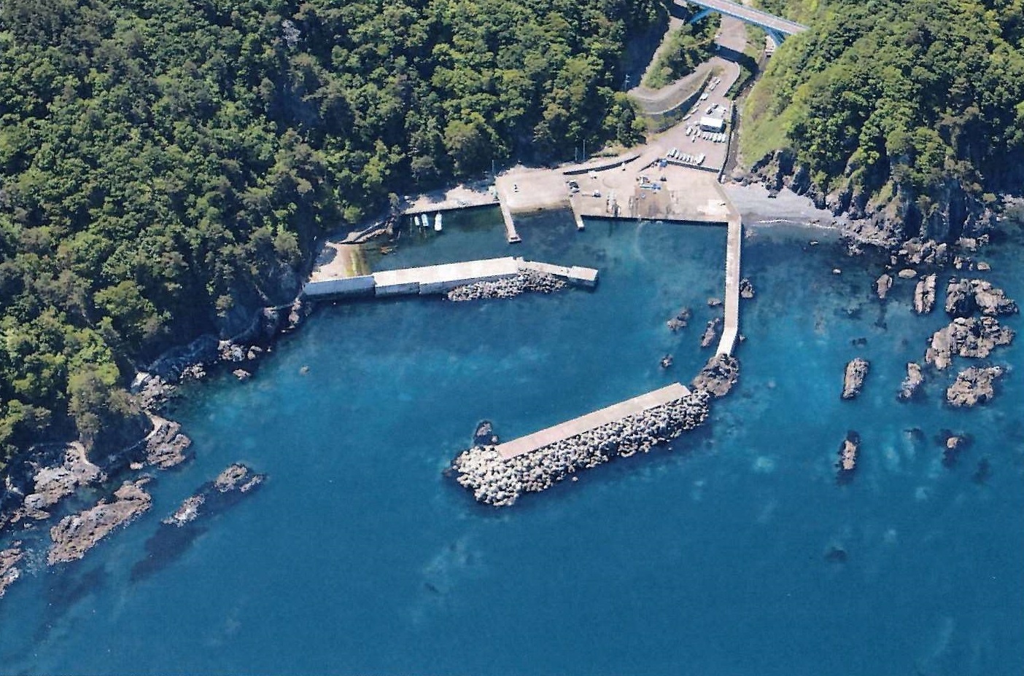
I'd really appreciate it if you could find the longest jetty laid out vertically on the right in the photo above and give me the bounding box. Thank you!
[716,213,742,361]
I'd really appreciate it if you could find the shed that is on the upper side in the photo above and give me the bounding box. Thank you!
[701,113,726,132]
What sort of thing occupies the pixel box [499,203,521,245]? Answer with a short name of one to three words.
pier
